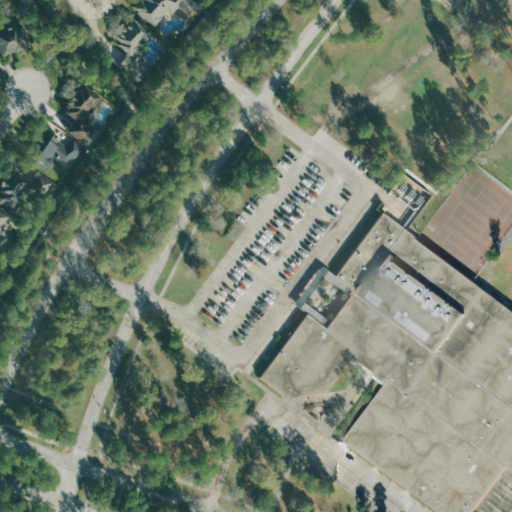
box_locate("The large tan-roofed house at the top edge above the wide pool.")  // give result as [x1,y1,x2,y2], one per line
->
[132,0,188,28]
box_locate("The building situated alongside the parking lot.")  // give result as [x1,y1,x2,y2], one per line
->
[260,212,512,512]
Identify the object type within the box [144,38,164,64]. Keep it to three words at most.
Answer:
swimming pool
